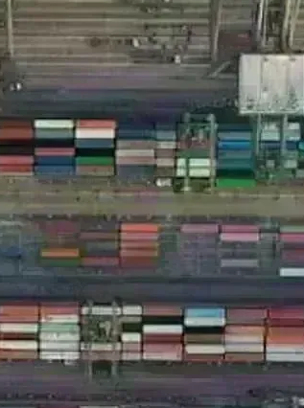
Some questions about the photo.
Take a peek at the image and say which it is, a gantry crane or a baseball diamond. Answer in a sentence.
This aerial view contains a gantry crane.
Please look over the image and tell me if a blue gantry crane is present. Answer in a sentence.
No, there's no blue gantry crane here.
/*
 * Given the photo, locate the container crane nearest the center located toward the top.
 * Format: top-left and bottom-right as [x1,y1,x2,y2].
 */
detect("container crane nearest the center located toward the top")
[168,110,217,195]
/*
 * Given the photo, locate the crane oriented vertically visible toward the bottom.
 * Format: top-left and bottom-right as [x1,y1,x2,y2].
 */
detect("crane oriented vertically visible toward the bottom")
[77,287,122,385]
